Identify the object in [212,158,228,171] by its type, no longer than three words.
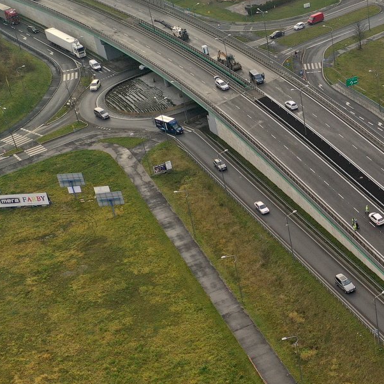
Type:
vehicle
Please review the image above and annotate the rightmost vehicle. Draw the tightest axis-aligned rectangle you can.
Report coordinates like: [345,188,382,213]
[367,212,384,226]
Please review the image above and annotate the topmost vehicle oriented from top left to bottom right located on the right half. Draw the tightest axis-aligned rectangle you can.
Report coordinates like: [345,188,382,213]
[220,44,243,69]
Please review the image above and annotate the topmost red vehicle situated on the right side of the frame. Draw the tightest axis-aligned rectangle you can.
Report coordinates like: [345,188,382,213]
[307,10,323,23]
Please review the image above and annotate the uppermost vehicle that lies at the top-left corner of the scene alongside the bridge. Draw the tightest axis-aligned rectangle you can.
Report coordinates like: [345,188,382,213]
[47,28,82,55]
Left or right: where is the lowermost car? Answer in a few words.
right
